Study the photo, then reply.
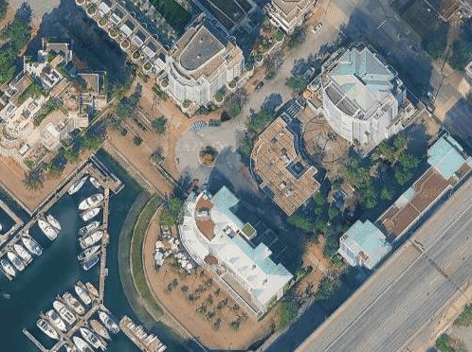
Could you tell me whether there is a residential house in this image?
Yes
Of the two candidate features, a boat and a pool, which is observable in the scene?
boat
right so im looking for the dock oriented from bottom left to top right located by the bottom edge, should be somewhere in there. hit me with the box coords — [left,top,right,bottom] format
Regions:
[43,302,102,352]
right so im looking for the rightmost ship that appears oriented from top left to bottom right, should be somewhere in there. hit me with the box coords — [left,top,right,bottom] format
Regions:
[120,316,172,352]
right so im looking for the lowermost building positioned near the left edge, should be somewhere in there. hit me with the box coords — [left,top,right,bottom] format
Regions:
[0,43,107,167]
